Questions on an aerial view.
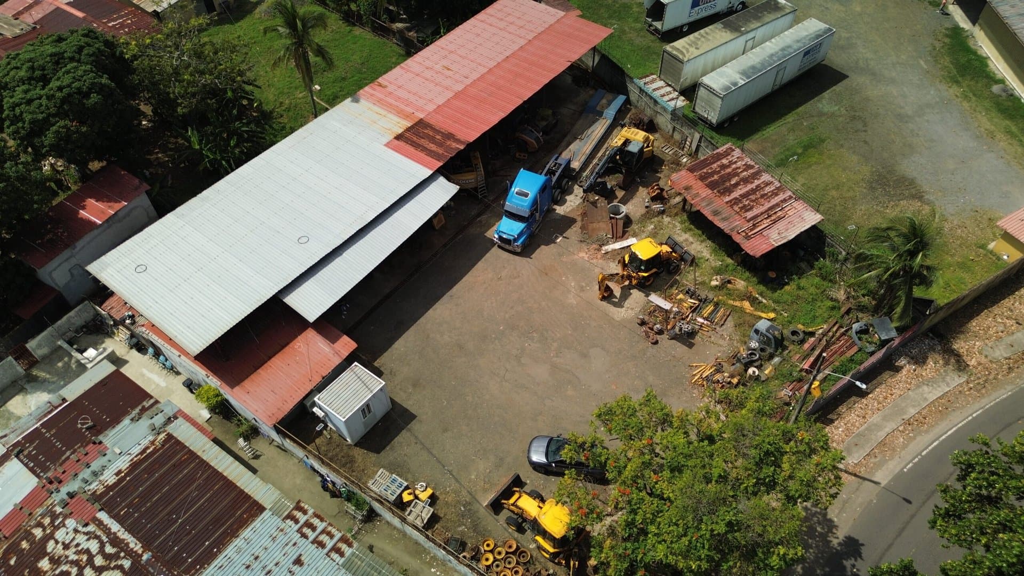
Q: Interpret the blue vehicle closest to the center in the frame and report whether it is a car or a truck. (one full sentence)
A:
Specifically, the blue vehicle closest to the center is a truck.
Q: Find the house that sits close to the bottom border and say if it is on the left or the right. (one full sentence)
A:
You can find the house that sits close to the bottom border on the left side of the picture.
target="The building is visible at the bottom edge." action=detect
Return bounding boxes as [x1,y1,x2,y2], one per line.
[0,359,399,576]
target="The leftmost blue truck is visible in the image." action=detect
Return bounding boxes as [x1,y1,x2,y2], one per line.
[493,165,574,253]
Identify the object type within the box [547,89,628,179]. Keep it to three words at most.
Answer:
trailer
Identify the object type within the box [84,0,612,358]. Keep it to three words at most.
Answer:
shed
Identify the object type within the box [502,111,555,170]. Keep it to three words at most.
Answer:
work vehicle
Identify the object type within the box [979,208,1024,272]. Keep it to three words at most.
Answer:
shed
